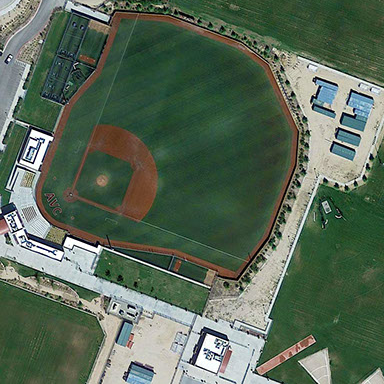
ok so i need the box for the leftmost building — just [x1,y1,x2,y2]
[2,211,25,234]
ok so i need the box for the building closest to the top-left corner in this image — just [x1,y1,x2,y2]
[64,0,109,23]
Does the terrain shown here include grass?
Yes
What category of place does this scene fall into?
sports ground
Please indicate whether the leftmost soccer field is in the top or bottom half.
bottom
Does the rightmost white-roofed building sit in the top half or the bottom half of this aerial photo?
bottom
